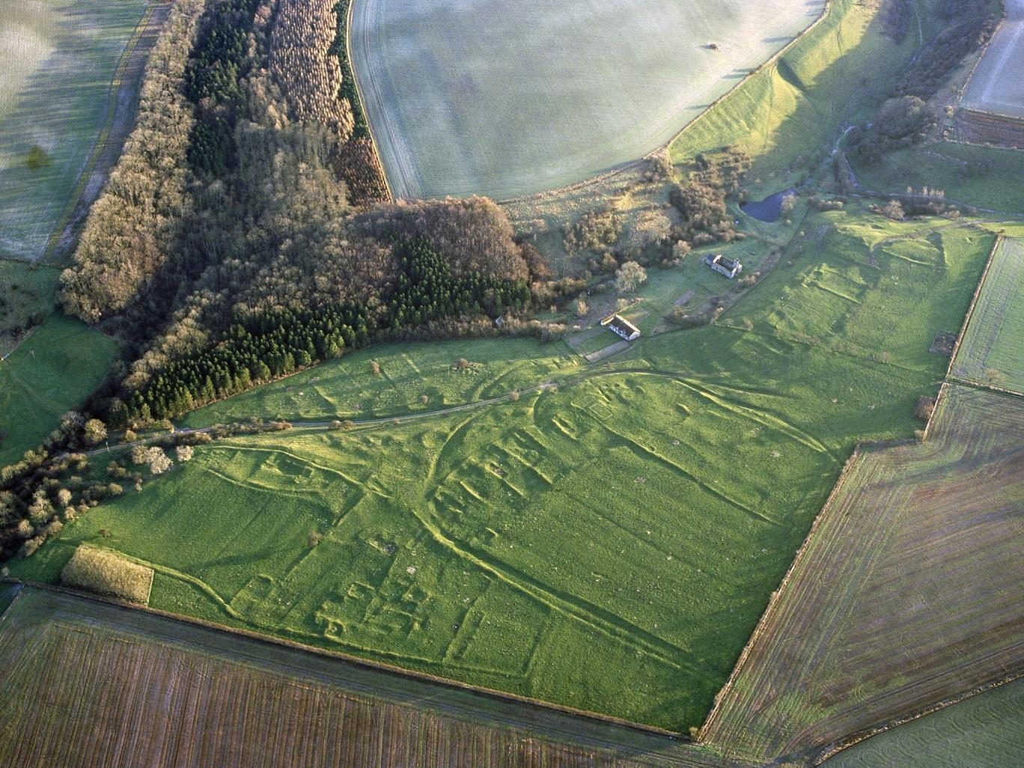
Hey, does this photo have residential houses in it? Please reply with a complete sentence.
Yes, this view includes a residential house.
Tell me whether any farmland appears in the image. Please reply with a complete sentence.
Yes, there is farmland in the image.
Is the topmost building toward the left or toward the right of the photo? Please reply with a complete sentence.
The topmost building is on the right side of the image.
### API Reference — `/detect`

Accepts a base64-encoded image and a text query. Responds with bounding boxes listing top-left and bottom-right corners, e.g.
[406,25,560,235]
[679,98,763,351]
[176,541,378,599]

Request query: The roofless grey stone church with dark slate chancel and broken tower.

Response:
[706,254,744,280]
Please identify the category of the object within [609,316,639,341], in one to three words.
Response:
house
